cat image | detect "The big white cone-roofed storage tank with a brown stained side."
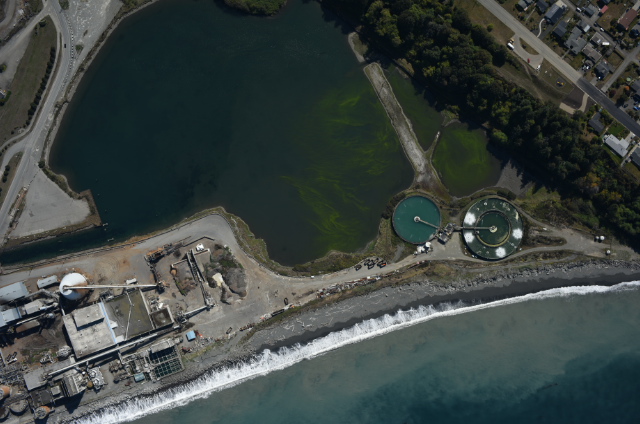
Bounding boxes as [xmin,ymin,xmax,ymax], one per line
[57,272,90,302]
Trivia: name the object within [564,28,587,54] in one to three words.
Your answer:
house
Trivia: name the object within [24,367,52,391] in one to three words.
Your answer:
building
